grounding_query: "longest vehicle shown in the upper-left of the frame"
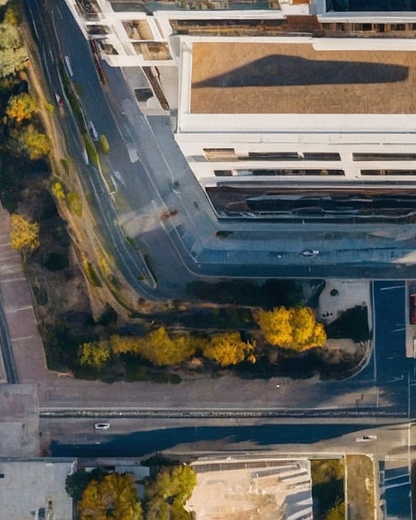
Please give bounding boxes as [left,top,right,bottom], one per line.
[89,48,104,74]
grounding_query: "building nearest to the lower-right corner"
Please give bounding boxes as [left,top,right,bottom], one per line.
[185,458,312,520]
